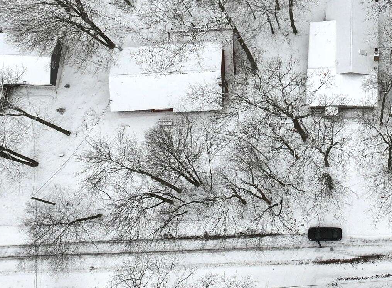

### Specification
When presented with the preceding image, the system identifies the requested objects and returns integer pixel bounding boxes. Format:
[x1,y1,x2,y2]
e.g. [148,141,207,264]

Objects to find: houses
[306,0,385,117]
[112,43,233,117]
[0,35,64,89]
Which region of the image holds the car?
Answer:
bottom right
